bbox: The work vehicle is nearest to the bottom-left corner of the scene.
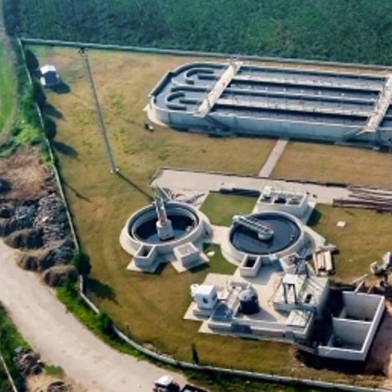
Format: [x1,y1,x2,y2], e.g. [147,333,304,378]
[151,373,182,392]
